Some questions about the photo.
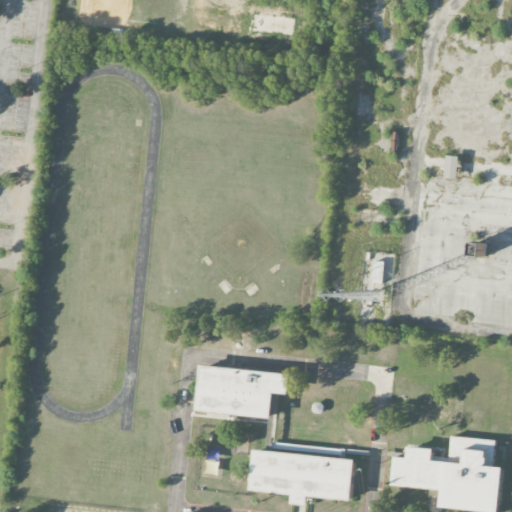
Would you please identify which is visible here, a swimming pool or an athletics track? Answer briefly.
athletics track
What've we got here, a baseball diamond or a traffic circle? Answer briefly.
baseball diamond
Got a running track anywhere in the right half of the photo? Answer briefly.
No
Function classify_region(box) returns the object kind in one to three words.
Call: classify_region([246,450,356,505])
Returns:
building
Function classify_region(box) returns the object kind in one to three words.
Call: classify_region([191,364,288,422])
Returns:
building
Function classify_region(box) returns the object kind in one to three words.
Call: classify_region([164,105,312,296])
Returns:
baseball field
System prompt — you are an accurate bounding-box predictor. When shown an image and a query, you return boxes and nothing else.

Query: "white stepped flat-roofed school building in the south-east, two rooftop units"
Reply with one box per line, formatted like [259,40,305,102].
[387,436,504,512]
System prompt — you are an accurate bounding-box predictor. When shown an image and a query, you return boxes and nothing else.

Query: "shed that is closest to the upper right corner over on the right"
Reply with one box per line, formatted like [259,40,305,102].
[444,156,460,180]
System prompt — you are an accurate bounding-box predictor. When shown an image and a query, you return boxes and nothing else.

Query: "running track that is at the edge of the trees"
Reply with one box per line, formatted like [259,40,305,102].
[34,64,162,431]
